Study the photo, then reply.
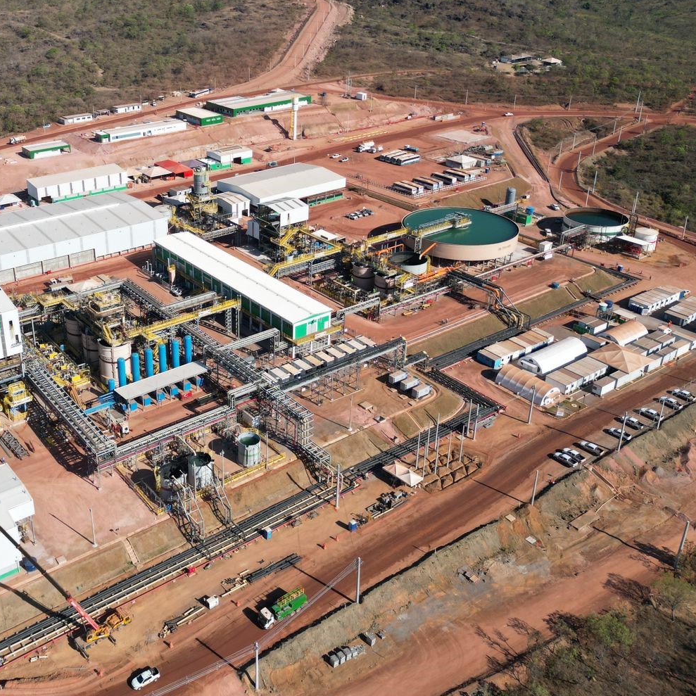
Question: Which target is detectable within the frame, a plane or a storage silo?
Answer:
storage silo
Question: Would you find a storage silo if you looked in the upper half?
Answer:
Yes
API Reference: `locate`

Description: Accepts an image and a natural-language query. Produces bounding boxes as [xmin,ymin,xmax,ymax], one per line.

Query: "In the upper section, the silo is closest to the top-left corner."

[181,166,211,216]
